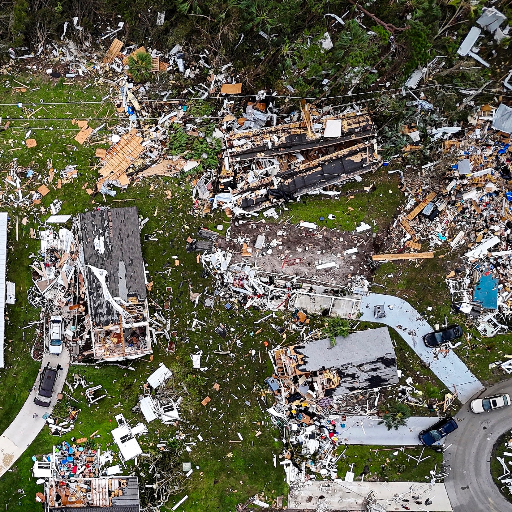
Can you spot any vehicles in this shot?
Yes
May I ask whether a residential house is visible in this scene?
Yes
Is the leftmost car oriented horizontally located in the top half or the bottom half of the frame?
bottom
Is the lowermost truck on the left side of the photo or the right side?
right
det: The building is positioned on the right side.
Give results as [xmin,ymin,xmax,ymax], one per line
[266,327,404,405]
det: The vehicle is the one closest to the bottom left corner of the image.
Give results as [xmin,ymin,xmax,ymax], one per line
[34,365,60,405]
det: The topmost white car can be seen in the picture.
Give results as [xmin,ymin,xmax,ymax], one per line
[48,315,64,353]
